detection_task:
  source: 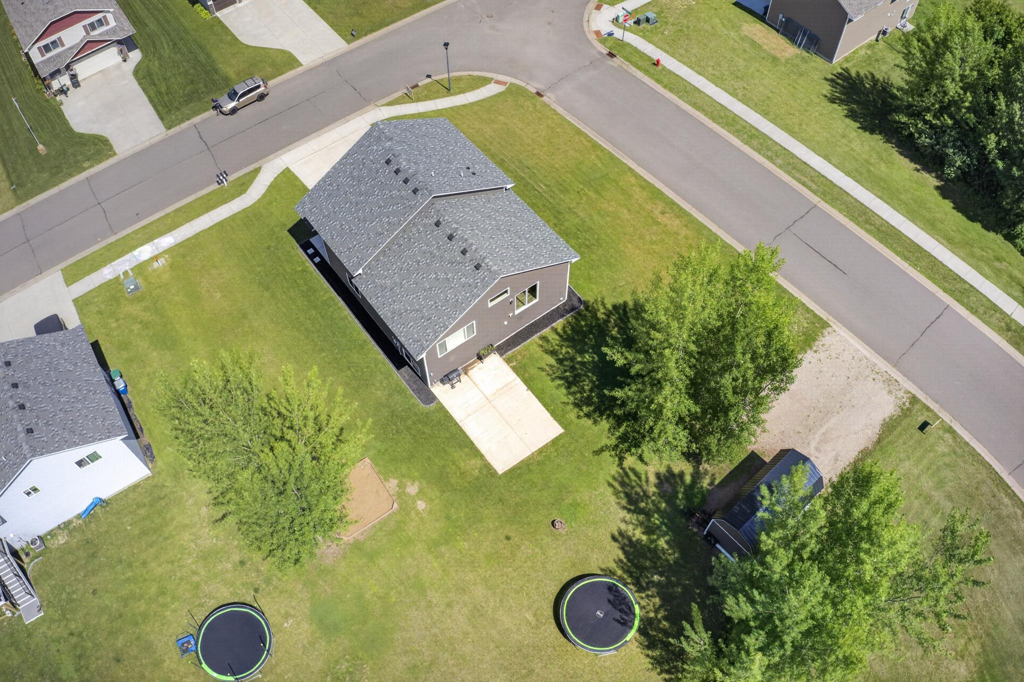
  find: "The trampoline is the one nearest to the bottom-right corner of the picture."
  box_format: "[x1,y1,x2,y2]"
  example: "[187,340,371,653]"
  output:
[559,574,640,665]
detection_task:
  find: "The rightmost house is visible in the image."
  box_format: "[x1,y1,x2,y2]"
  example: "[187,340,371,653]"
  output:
[775,0,921,62]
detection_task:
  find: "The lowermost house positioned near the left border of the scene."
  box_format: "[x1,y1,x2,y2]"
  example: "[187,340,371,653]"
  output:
[0,325,151,539]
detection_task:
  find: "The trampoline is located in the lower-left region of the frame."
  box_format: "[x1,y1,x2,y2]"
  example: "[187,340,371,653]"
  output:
[179,602,276,682]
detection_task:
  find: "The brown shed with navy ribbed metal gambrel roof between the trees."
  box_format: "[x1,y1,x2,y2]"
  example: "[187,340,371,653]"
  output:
[703,448,821,570]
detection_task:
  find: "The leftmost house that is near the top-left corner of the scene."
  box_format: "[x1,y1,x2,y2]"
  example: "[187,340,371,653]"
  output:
[0,0,138,100]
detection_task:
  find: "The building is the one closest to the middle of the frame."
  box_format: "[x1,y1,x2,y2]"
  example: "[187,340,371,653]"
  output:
[296,120,578,389]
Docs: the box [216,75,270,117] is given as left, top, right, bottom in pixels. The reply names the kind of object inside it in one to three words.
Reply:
car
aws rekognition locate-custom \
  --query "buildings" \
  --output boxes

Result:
[703,448,821,570]
[775,0,921,62]
[0,325,151,539]
[0,0,138,100]
[193,0,244,20]
[296,120,578,389]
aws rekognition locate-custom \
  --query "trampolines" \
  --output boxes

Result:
[559,574,640,665]
[179,602,276,682]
